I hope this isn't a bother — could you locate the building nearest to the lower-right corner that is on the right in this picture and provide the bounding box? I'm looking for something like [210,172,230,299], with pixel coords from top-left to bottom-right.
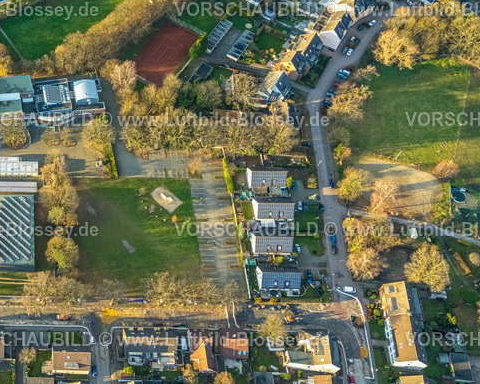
[448,353,472,383]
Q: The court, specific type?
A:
tennis court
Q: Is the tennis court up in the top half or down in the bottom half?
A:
top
